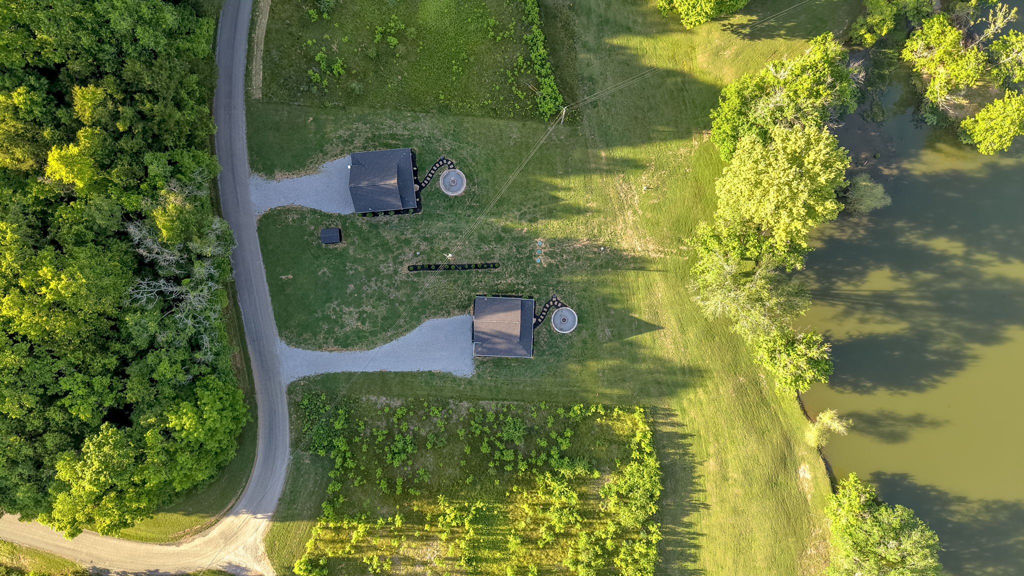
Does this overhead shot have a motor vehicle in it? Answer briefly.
No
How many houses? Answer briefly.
2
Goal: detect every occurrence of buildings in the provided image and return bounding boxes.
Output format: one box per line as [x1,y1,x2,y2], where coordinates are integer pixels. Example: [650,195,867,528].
[473,295,535,359]
[320,229,343,244]
[346,147,417,213]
